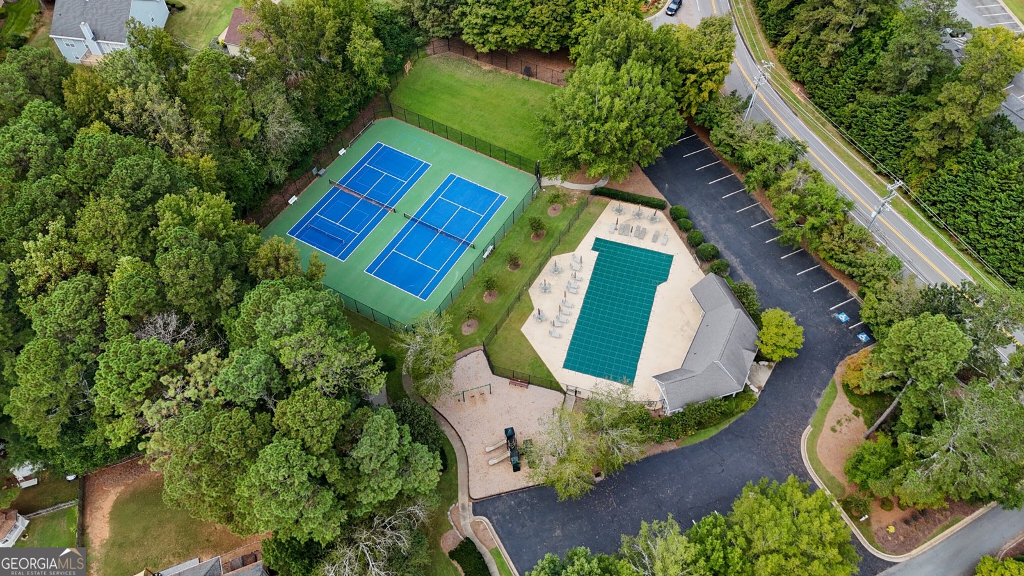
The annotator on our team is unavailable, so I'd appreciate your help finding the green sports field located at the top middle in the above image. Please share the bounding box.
[394,53,631,176]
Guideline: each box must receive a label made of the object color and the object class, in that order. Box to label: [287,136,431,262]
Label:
blue tennis court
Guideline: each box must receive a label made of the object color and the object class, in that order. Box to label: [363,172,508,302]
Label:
blue tennis court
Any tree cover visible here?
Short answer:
Yes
